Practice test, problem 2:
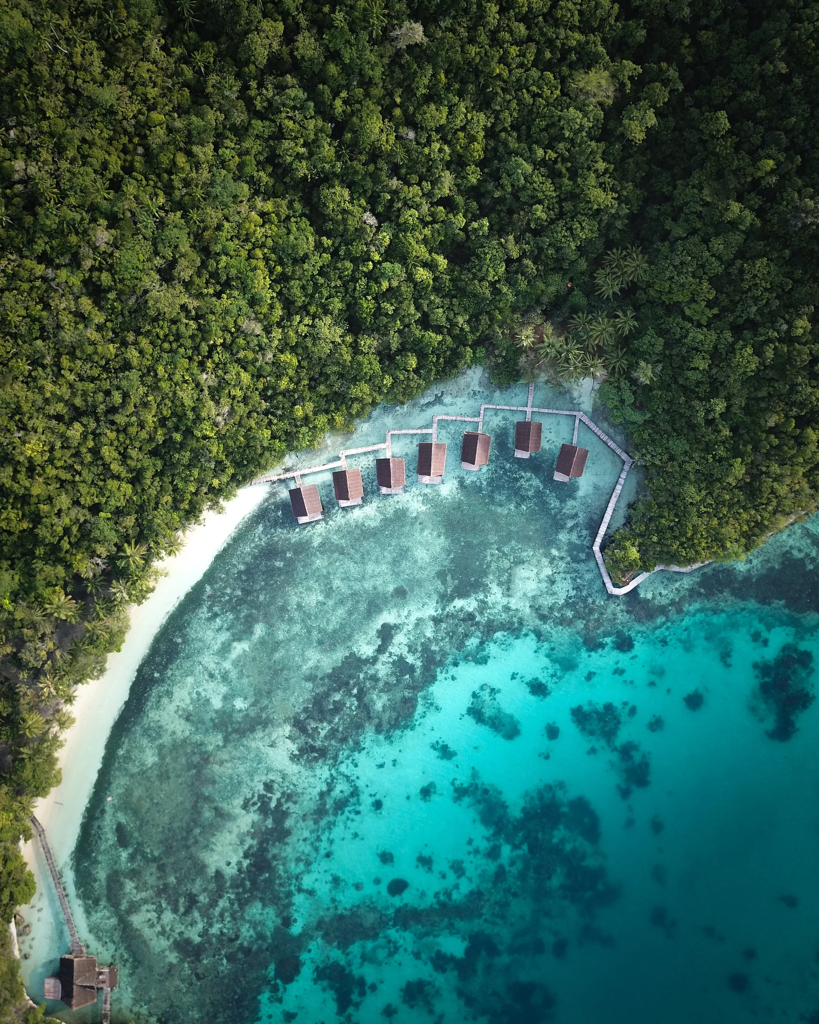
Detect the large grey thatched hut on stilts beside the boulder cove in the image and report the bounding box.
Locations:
[44,954,121,1010]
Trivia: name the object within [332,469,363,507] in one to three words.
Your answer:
house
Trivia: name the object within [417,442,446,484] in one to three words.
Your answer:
house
